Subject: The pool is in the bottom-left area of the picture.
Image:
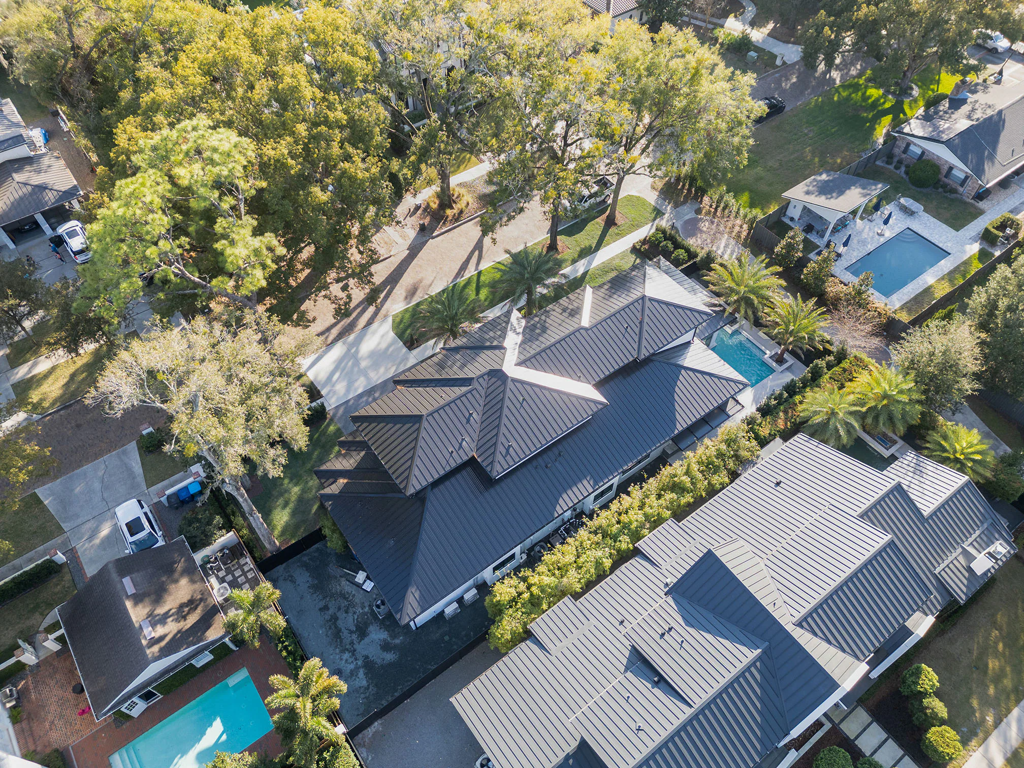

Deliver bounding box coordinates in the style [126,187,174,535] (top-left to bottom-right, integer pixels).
[101,661,275,768]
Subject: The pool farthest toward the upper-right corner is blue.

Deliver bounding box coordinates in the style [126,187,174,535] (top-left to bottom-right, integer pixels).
[844,227,952,297]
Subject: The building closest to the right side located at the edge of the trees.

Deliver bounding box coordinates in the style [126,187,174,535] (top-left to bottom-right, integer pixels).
[889,57,1024,200]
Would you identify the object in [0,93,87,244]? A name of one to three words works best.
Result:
house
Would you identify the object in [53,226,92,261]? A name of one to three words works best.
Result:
car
